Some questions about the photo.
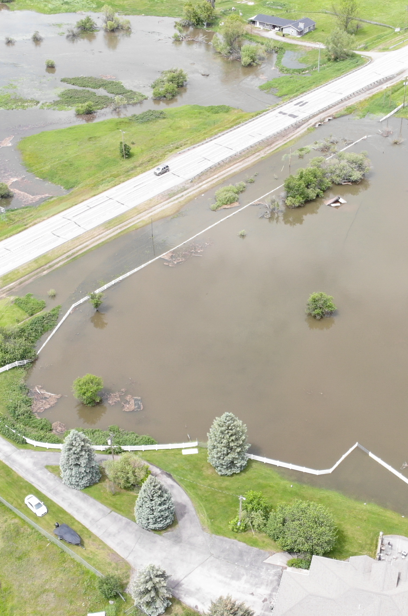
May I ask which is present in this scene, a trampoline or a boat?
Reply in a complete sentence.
It is a boat that can be seen here.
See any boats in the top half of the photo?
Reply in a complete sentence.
No, in the top half of the photo there is no boat.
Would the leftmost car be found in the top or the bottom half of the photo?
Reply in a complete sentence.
The bottom half of the photo is where the leftmost car is.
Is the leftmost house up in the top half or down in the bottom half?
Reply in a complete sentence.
You can find the leftmost house in the top half.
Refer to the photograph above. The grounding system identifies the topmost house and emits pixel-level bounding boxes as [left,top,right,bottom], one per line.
[246,14,317,38]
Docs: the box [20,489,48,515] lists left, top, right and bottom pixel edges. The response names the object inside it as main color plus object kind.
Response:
white car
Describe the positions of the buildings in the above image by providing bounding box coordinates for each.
[272,556,408,616]
[246,14,317,38]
